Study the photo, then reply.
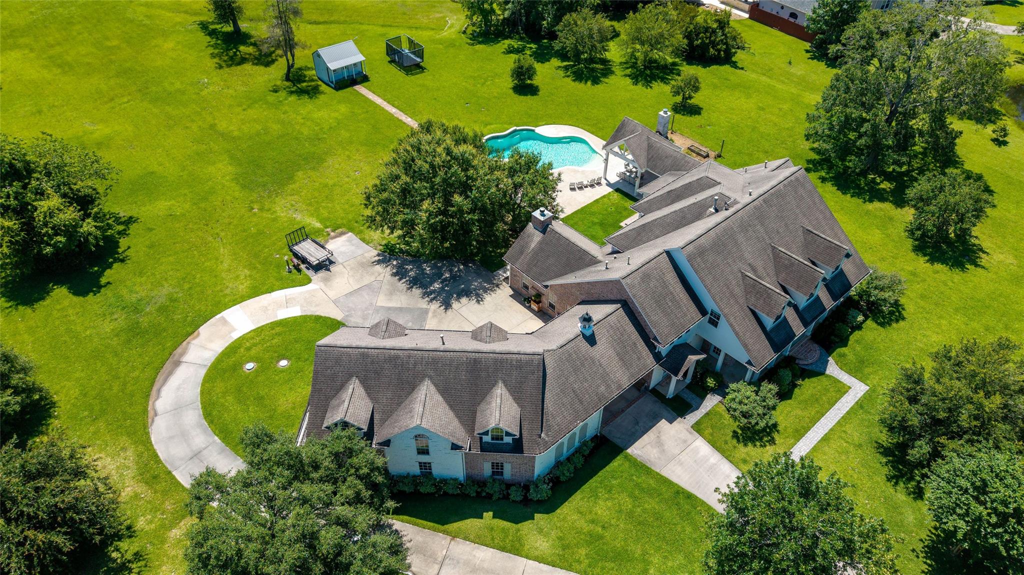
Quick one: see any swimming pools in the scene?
Yes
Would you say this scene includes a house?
Yes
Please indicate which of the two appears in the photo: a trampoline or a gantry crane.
trampoline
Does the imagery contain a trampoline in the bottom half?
No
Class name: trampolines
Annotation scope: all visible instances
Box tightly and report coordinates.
[386,34,426,73]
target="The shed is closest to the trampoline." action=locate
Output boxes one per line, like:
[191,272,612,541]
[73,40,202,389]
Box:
[311,37,363,88]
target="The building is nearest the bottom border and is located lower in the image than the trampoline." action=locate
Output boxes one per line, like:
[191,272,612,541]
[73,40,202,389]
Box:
[293,159,872,482]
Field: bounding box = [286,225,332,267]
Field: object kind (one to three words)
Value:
trailer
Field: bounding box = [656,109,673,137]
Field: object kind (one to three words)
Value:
chimney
